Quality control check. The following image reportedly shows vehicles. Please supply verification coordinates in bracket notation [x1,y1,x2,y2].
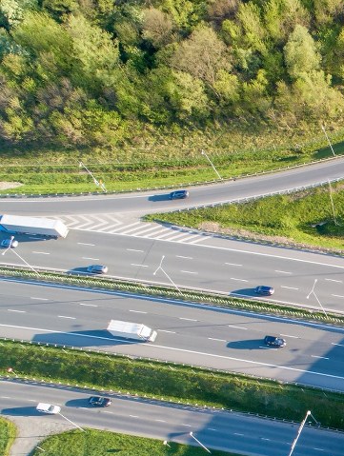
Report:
[169,189,190,200]
[254,286,275,296]
[0,238,15,248]
[88,396,112,407]
[36,404,60,416]
[87,264,107,275]
[262,336,286,348]
[107,320,157,343]
[0,214,65,238]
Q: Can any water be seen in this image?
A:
No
